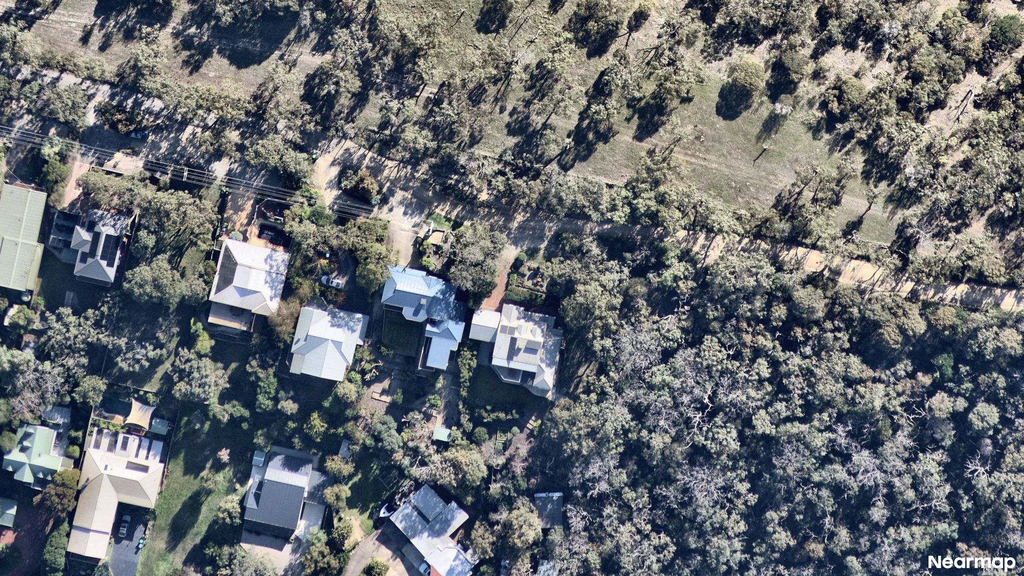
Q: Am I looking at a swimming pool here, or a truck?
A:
swimming pool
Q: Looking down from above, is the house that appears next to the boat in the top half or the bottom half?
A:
bottom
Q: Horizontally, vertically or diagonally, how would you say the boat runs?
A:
diagonally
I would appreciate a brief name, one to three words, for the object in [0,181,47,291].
house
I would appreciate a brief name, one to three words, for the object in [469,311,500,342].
building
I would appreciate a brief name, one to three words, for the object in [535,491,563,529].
shed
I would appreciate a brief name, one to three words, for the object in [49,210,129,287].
house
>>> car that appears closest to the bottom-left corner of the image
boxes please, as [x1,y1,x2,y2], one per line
[118,514,131,538]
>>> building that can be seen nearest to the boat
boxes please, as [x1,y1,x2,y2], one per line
[390,486,474,576]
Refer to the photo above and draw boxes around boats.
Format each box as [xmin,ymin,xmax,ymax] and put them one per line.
[377,499,399,519]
